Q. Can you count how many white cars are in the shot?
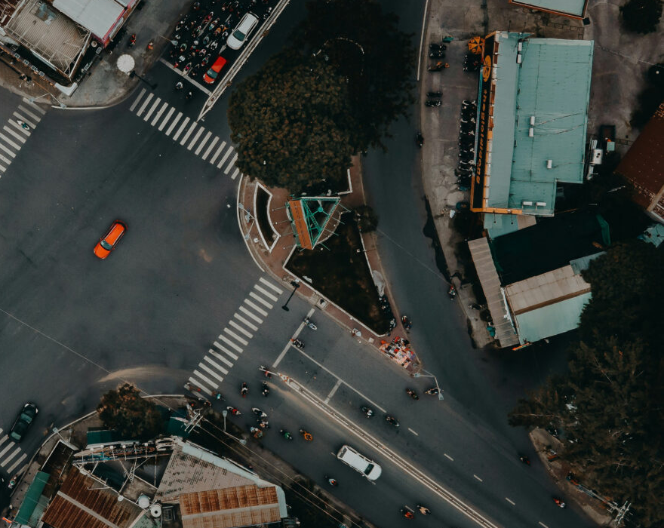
2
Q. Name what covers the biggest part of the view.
paved ground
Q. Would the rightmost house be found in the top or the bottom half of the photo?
top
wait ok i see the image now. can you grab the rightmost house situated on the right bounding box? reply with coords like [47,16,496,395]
[598,108,664,226]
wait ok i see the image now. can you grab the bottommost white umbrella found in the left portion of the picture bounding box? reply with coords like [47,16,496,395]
[117,54,135,73]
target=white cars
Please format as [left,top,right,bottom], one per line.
[336,444,383,483]
[225,10,261,53]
